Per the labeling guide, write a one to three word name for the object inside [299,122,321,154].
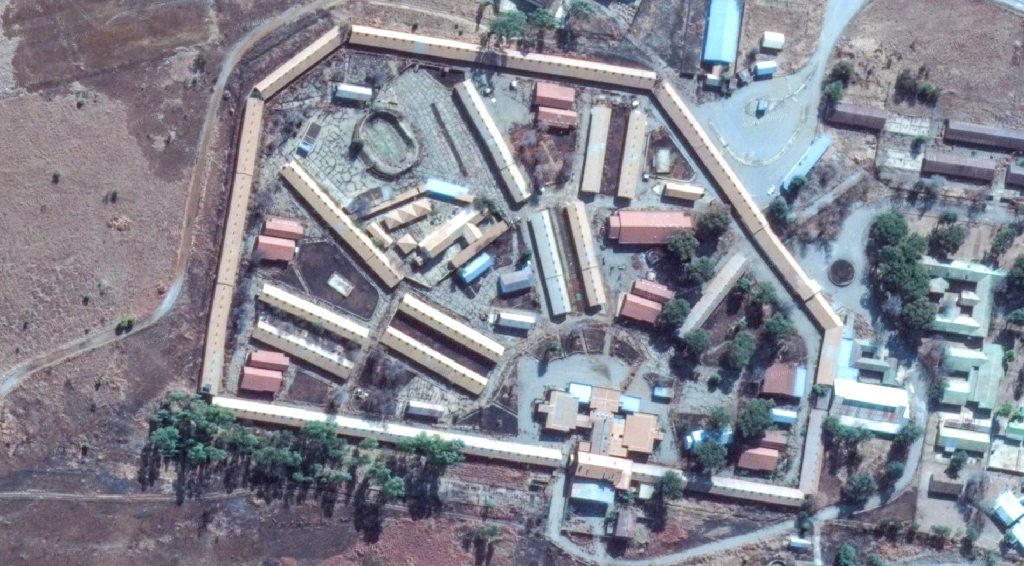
shed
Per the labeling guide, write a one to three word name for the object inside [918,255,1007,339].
house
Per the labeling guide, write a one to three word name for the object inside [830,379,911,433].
building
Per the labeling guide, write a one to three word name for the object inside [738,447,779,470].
house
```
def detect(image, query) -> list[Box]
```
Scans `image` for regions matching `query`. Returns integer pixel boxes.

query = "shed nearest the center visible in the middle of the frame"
[500,268,533,294]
